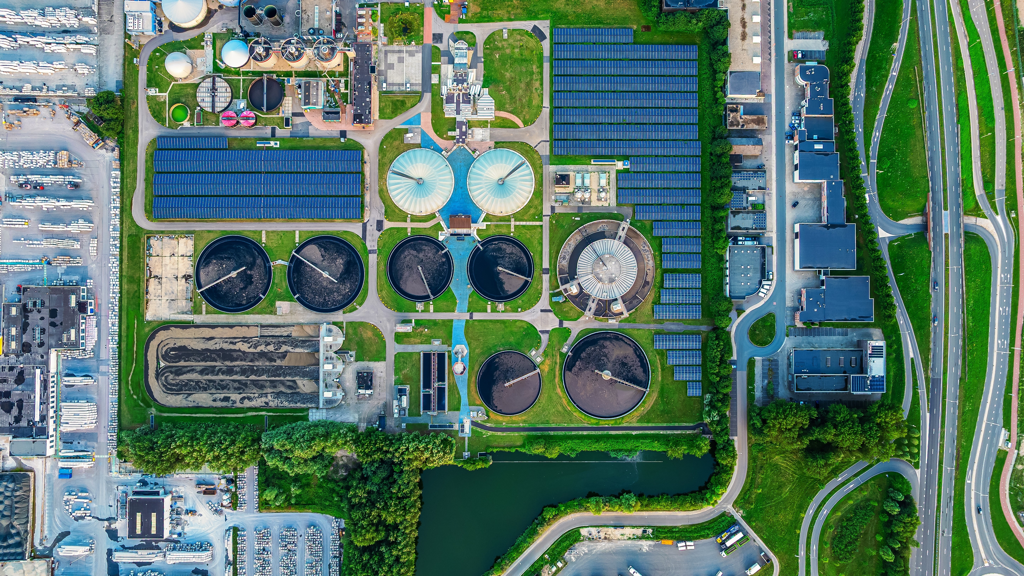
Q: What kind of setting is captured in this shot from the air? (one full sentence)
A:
The area seen from above is an industrial area.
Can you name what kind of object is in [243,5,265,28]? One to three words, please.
silo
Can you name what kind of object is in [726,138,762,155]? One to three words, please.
building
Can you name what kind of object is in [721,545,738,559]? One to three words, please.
vehicle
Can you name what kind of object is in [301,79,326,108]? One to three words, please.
building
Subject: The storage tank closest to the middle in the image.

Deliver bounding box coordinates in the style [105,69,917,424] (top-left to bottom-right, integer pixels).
[467,235,534,302]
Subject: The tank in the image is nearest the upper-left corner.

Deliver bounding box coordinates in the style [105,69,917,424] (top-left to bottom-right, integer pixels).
[161,0,210,28]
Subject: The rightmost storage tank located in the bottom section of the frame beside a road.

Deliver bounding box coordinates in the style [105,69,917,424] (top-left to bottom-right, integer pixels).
[563,331,651,420]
